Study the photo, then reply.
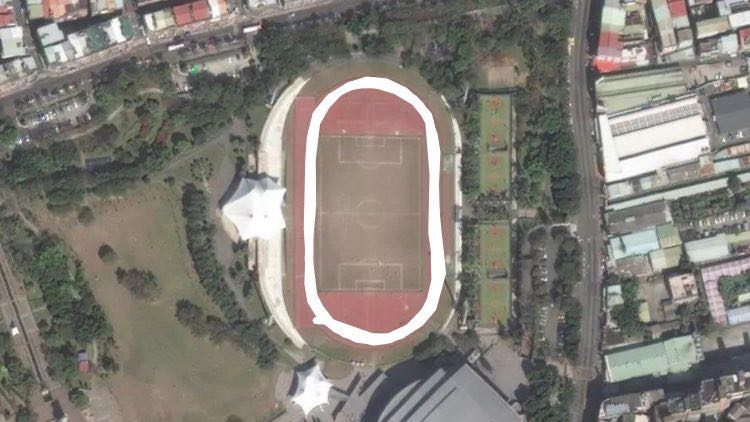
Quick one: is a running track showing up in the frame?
Yes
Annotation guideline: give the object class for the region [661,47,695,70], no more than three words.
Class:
building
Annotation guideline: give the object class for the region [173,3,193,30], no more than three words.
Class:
building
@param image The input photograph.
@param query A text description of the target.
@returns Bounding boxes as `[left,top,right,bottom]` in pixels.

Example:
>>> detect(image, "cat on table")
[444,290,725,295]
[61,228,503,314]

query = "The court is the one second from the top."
[480,95,510,146]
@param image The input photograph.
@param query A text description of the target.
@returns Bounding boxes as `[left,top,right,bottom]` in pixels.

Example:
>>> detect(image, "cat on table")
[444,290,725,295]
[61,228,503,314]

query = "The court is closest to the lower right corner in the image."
[479,276,510,328]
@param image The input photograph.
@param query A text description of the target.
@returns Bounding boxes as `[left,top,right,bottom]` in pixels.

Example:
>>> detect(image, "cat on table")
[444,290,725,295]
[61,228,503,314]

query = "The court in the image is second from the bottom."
[479,224,510,272]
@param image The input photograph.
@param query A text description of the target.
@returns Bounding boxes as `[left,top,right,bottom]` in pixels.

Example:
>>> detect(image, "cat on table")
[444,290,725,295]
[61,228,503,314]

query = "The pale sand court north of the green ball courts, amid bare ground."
[489,66,515,87]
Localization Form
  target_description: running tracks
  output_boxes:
[283,62,456,366]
